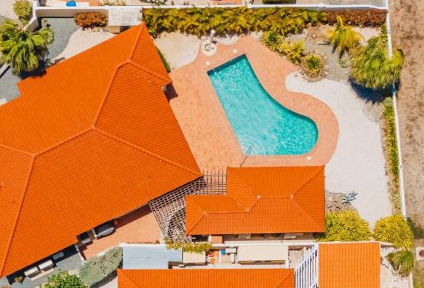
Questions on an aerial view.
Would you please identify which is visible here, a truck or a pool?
pool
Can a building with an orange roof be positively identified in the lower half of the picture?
Yes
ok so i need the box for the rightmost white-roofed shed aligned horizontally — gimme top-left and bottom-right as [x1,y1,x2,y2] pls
[237,246,287,264]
